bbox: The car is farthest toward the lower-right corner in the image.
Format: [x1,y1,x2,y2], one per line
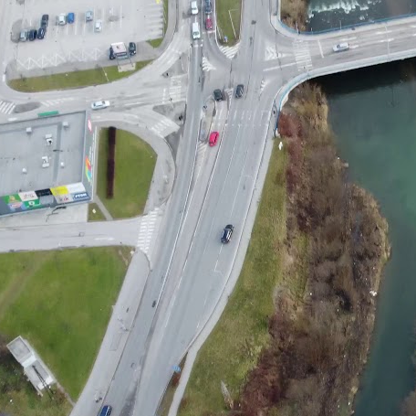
[222,225,234,243]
